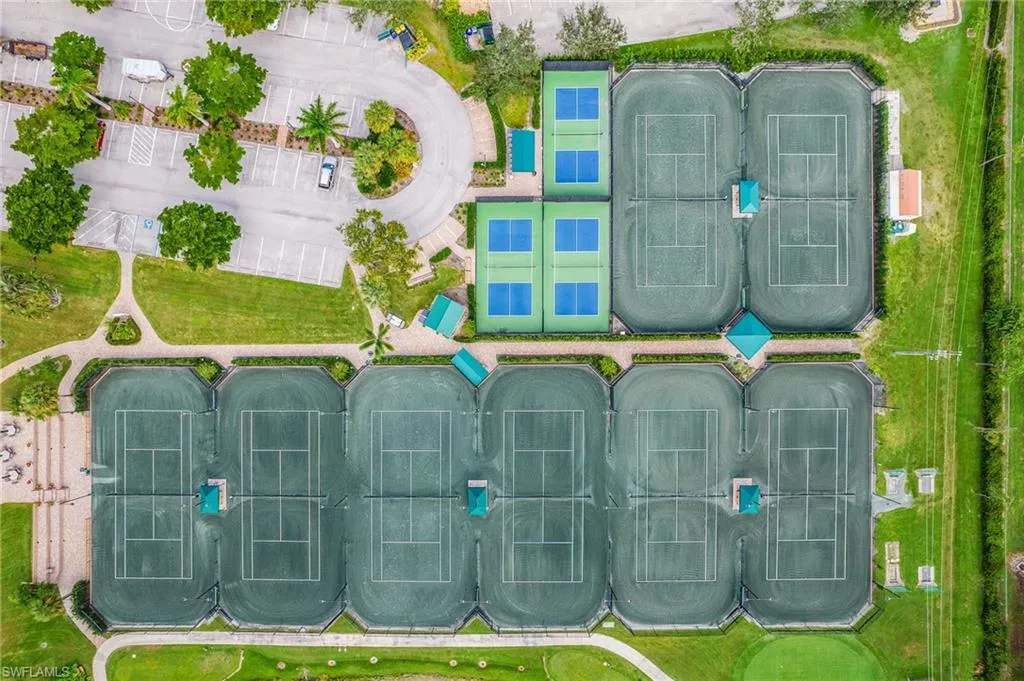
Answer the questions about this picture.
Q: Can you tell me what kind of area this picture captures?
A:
sports ground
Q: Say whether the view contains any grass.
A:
Yes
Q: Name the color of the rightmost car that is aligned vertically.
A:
white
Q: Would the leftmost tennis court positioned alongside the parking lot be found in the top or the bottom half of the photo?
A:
bottom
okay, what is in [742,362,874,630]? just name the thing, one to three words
tennis court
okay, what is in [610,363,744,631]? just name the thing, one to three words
tennis court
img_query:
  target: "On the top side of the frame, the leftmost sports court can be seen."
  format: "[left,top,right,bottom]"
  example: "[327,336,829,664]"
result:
[476,201,543,333]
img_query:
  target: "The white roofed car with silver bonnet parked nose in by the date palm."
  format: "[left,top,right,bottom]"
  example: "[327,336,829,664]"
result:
[316,155,336,191]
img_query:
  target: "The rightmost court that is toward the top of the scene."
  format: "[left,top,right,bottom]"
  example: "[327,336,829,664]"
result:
[743,68,875,333]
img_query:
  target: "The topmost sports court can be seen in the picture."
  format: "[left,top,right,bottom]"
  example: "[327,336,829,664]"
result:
[543,69,611,196]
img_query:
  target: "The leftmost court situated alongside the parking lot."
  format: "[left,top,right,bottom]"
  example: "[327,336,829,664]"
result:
[90,366,217,629]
